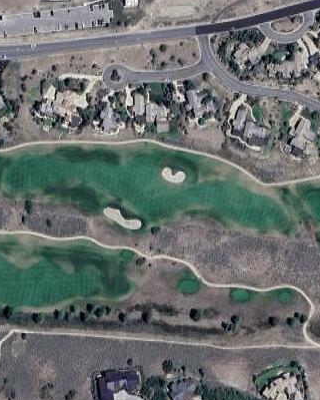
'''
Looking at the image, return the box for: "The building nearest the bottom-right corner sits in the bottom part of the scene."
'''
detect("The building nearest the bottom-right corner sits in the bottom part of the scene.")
[260,370,302,400]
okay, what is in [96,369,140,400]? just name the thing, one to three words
house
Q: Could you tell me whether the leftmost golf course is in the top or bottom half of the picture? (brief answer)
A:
bottom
